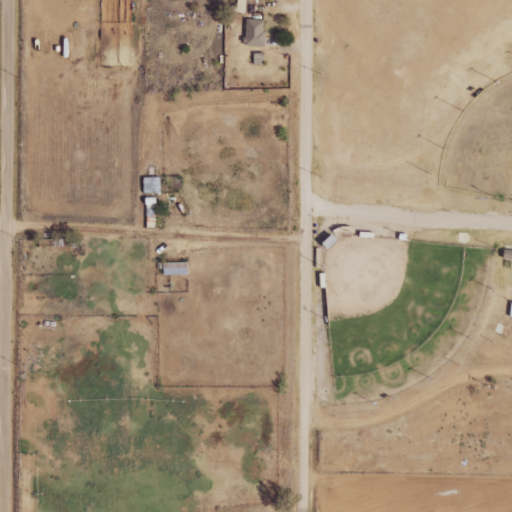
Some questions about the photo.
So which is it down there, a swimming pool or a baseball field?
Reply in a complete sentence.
Of the two, only a baseball field appears.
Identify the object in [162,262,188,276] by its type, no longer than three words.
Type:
shed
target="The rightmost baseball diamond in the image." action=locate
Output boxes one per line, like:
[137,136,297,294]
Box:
[438,72,512,200]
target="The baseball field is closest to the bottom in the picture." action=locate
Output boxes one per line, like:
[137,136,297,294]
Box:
[326,234,464,376]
